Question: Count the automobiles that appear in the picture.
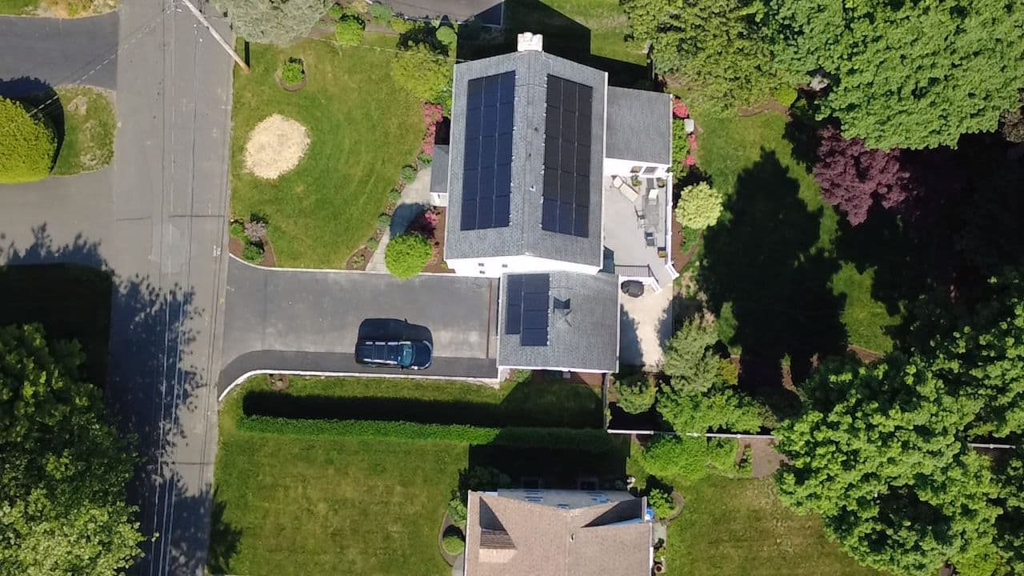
1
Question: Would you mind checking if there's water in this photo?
No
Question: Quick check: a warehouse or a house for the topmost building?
house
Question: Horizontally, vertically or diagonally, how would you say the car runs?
horizontally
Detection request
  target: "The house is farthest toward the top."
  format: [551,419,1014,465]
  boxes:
[424,28,674,273]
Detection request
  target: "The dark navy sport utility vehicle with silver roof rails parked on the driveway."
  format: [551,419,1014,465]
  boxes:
[354,336,434,374]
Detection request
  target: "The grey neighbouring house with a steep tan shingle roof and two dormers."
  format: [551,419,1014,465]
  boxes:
[465,486,658,576]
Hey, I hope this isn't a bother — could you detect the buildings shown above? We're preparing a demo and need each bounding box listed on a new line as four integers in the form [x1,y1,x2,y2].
[465,486,658,576]
[424,28,674,273]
